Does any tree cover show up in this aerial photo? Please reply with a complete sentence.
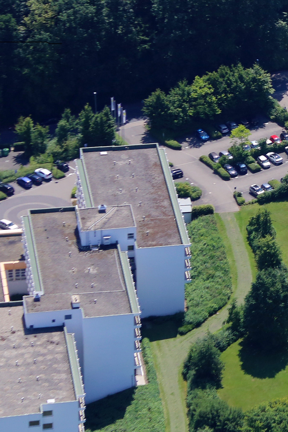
Yes, there is tree cover in the image.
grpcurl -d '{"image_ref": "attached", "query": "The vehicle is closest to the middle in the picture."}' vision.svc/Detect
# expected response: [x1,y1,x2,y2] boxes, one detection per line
[171,165,189,177]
